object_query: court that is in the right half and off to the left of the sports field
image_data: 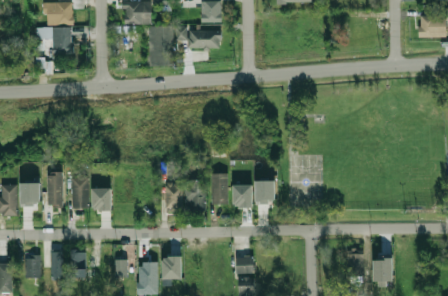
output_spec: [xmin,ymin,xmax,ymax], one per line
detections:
[290,154,323,207]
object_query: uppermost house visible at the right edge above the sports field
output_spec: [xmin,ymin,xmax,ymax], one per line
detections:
[419,16,447,38]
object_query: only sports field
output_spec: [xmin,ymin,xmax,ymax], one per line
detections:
[325,88,444,205]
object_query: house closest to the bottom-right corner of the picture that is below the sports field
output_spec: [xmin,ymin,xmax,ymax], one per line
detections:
[374,259,394,288]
